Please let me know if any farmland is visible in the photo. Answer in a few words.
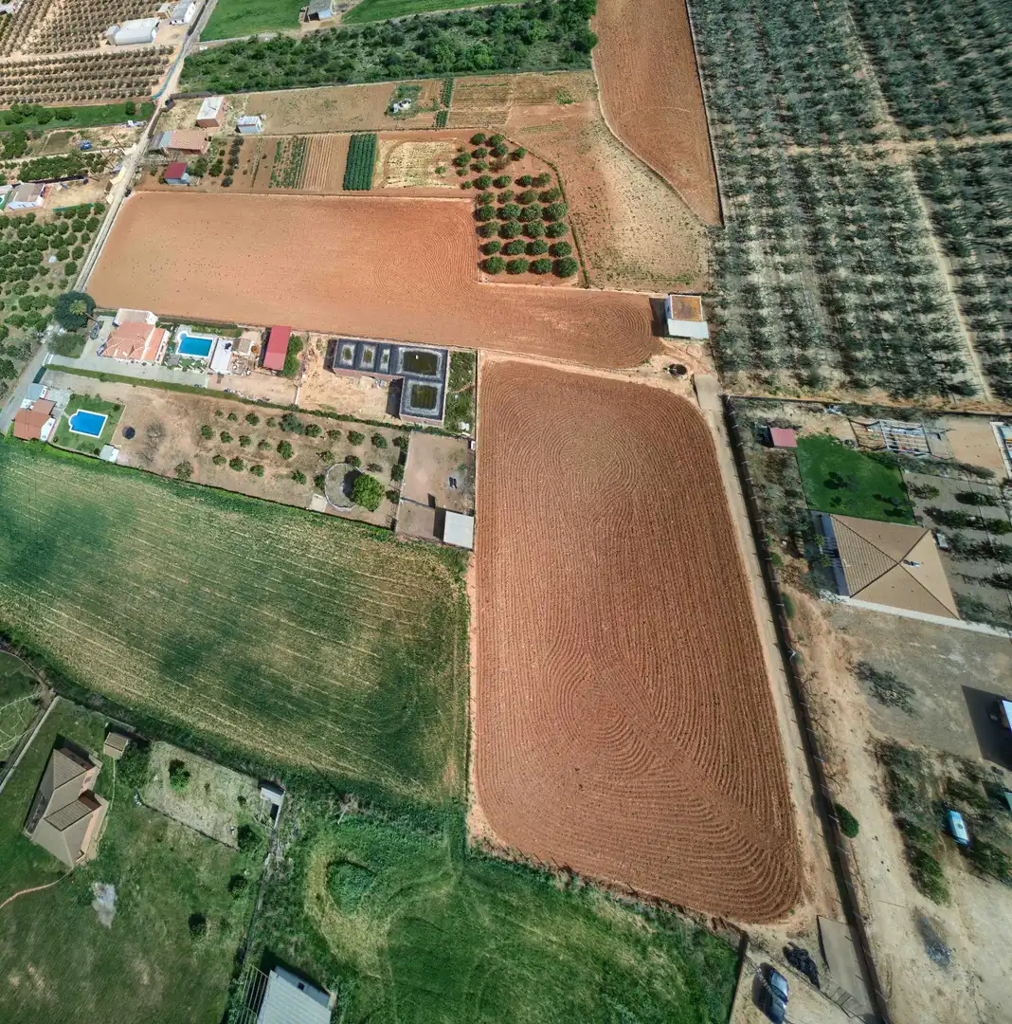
Yes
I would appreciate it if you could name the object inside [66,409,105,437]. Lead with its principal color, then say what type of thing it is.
blue swimming pool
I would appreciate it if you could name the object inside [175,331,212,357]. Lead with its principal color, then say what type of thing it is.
blue swimming pool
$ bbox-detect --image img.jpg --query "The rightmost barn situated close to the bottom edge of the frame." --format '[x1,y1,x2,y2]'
[255,957,337,1024]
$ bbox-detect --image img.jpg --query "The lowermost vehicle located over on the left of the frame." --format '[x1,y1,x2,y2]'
[86,324,103,341]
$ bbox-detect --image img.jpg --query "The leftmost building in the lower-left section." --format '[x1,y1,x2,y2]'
[32,749,108,869]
